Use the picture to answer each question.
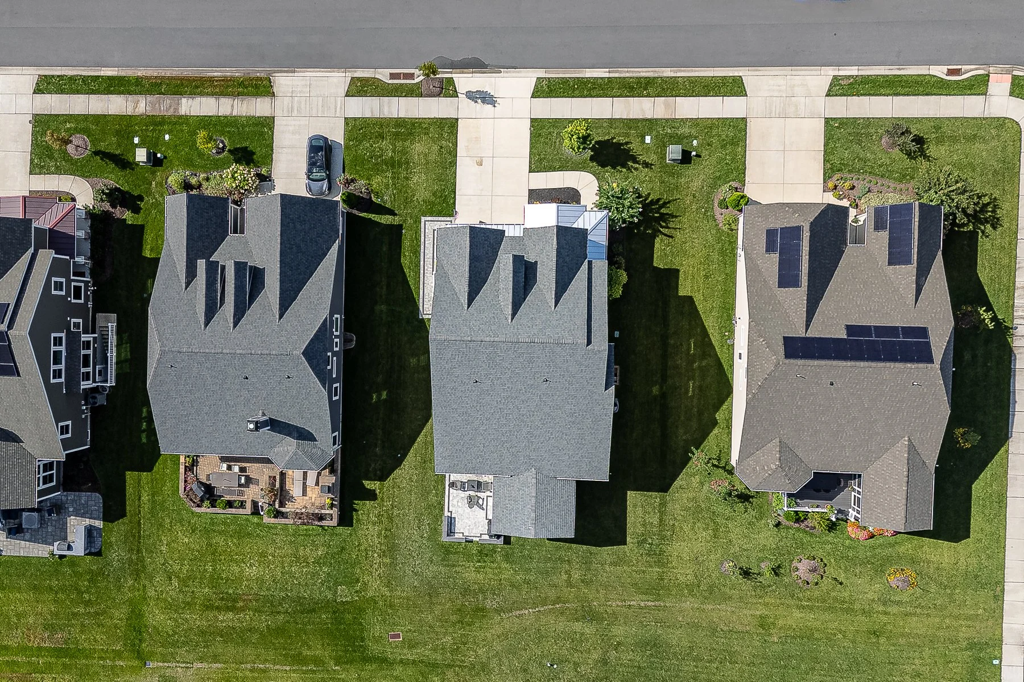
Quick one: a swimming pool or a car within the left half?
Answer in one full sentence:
The feature located within the left half is a car.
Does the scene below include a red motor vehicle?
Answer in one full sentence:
No, I can see no red motor vehicle in this picture.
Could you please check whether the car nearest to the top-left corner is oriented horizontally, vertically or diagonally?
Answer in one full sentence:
The car nearest to the top-left corner is laid out vertically.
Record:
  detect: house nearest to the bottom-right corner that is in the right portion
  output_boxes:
[727,202,955,531]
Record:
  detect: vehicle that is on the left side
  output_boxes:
[302,134,333,197]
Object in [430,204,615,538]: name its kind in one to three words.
house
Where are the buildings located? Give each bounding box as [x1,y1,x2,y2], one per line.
[727,202,955,531]
[146,193,348,472]
[0,192,101,536]
[430,204,615,538]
